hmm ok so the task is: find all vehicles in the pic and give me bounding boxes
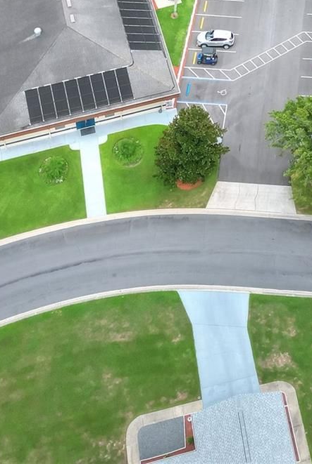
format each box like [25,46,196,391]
[197,31,236,49]
[197,46,219,66]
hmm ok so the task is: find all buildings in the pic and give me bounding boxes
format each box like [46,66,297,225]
[145,392,294,464]
[0,0,185,158]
